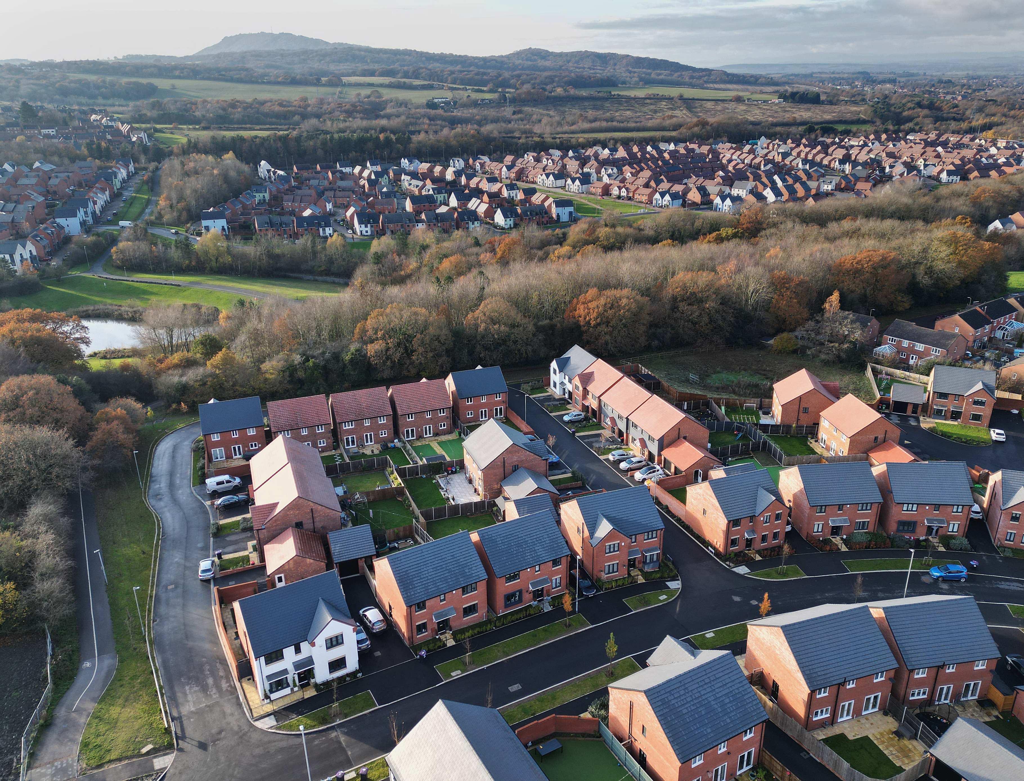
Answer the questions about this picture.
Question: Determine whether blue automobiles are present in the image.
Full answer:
Yes, a blue automobile appears in the view.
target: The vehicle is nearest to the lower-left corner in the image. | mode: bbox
[198,557,215,579]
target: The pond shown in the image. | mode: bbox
[51,317,216,355]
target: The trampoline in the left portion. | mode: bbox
[372,527,394,550]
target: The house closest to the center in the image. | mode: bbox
[445,361,508,424]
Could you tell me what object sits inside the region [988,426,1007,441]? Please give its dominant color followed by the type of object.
white car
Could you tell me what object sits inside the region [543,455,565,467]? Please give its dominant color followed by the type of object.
blue vehicle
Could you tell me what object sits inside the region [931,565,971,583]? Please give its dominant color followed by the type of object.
blue car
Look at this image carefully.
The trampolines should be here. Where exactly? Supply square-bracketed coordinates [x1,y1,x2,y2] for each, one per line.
[911,691,960,736]
[372,527,394,550]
